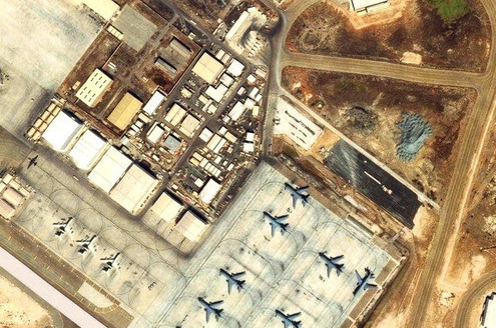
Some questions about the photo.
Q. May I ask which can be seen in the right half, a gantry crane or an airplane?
airplane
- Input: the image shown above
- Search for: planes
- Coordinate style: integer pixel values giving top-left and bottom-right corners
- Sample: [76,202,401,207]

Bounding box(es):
[264,213,289,238]
[74,237,97,264]
[98,254,121,281]
[319,254,344,279]
[275,311,301,328]
[51,220,74,246]
[353,268,377,295]
[198,300,224,324]
[221,270,246,295]
[26,154,38,168]
[285,184,310,208]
